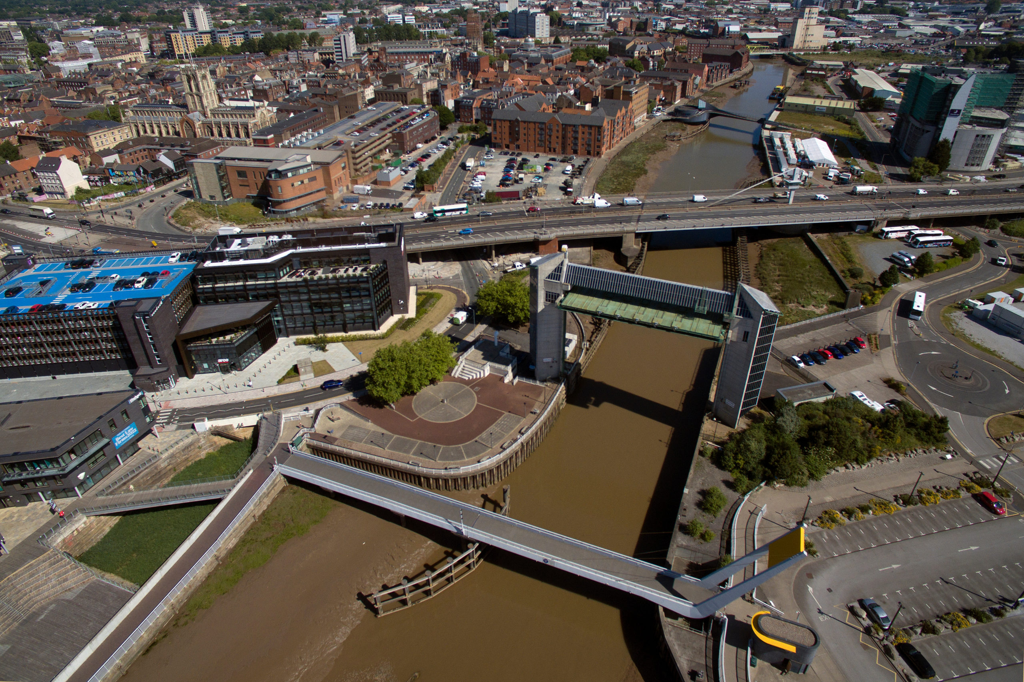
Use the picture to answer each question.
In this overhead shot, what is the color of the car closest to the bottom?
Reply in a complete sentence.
In this view, the car closest to the bottom is black.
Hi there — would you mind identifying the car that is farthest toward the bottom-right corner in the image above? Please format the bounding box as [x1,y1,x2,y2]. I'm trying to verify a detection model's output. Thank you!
[895,641,940,682]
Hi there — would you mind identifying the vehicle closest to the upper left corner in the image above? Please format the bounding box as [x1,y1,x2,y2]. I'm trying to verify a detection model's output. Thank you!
[26,202,57,219]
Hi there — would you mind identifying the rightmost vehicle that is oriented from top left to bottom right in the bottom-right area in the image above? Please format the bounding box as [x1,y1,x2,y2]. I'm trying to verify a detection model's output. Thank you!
[975,490,1004,513]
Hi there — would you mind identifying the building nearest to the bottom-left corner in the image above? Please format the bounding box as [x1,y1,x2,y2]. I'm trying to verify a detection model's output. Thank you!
[0,388,160,507]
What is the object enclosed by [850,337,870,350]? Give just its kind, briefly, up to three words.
vehicle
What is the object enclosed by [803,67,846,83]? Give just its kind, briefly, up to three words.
building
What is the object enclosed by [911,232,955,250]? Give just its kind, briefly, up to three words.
vehicle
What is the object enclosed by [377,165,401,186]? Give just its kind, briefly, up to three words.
building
